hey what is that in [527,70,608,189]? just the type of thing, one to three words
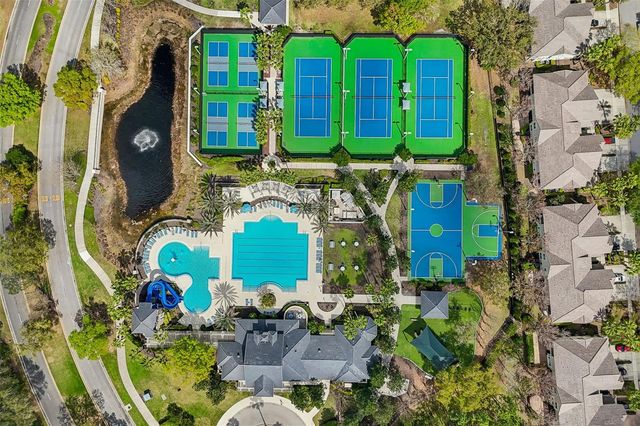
house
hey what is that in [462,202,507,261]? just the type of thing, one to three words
basketball court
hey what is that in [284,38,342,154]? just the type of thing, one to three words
tennis court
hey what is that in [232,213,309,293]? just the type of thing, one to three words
swimming pool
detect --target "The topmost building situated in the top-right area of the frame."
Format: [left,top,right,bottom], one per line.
[518,0,596,63]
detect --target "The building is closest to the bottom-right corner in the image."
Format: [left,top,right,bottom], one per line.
[547,334,629,426]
